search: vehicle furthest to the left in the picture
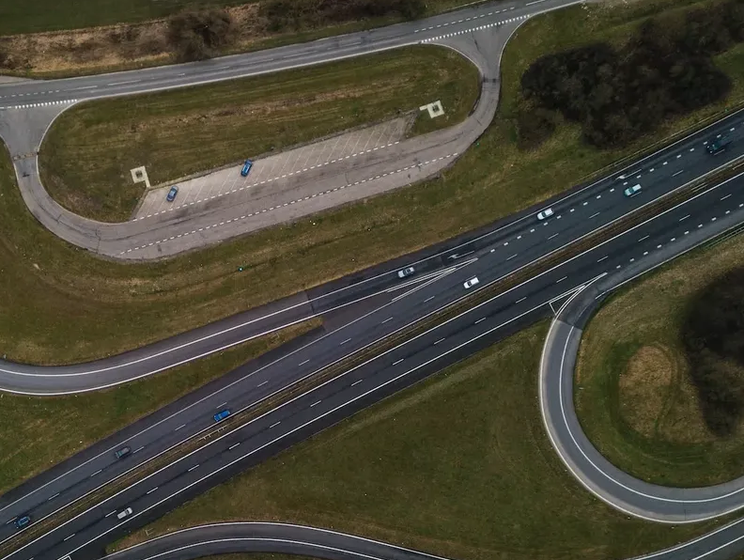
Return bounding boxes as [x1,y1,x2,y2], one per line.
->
[13,515,31,528]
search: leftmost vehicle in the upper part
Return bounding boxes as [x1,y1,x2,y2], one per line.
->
[166,185,178,201]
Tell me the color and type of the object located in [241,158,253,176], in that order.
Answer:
blue vehicle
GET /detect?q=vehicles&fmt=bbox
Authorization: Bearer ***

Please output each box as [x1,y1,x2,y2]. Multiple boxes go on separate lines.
[398,266,416,277]
[241,158,253,176]
[624,182,645,196]
[463,275,482,289]
[13,515,31,528]
[537,207,556,219]
[166,185,178,201]
[114,446,131,459]
[214,409,231,422]
[116,506,133,520]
